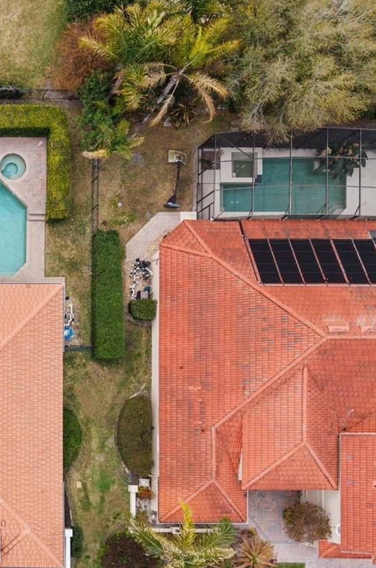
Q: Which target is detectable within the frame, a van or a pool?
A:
pool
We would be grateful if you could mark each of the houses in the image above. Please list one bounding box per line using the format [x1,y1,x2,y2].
[0,280,66,568]
[153,218,376,567]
